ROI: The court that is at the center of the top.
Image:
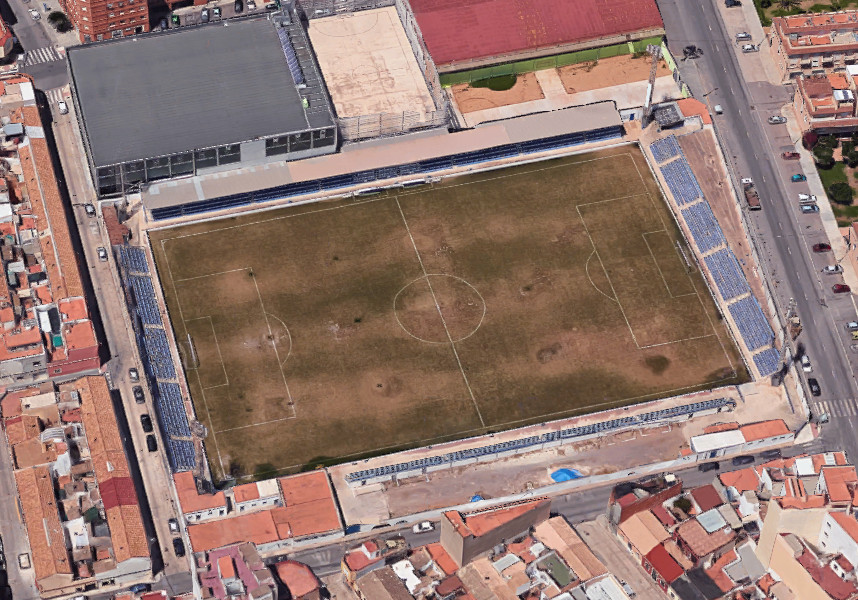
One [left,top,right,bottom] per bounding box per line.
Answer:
[305,8,443,137]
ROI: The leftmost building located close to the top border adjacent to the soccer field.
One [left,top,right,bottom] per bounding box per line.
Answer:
[62,6,340,201]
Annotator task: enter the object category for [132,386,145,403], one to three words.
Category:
vehicle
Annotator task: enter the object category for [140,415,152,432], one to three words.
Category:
vehicle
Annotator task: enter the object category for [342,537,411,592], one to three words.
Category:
house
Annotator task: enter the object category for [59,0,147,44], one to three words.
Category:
building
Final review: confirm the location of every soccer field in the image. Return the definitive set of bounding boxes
[147,142,754,492]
